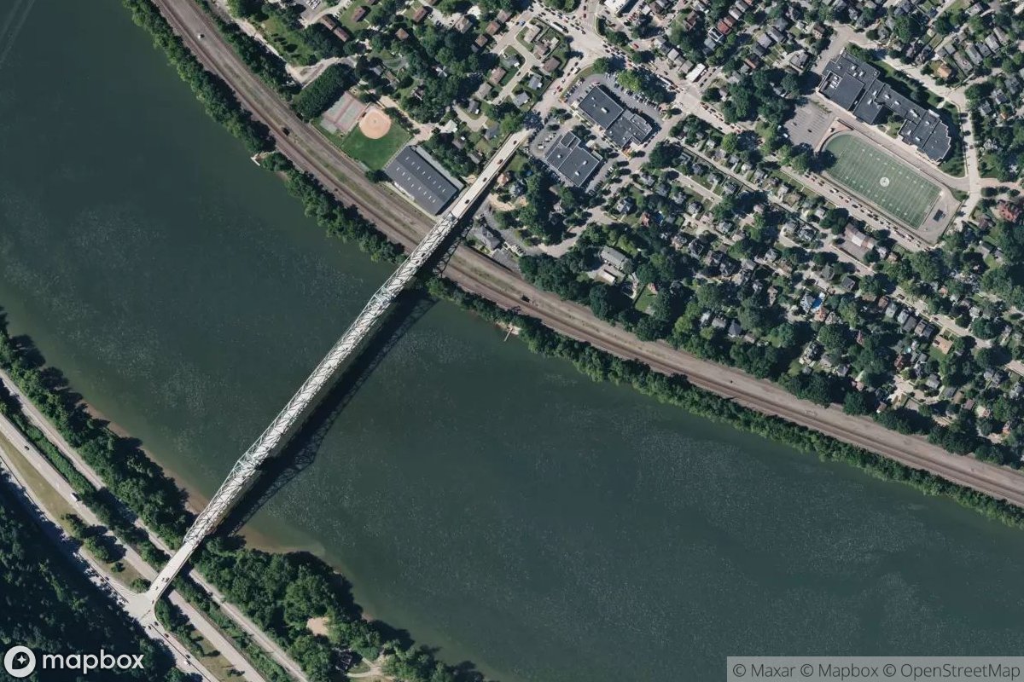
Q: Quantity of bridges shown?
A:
1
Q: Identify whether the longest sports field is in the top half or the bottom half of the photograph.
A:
top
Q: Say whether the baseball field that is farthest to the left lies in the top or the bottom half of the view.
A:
top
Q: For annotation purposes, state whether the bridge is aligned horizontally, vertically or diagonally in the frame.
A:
diagonally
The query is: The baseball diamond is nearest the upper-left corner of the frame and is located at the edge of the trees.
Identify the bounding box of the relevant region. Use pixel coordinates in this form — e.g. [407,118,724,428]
[341,108,413,169]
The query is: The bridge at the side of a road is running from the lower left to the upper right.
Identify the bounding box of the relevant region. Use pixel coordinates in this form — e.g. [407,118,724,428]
[147,131,524,600]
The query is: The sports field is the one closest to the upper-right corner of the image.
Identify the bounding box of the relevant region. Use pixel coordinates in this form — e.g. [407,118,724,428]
[820,130,966,243]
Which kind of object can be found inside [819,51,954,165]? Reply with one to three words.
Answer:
building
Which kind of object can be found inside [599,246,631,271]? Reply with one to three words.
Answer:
house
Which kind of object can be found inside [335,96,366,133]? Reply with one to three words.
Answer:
tennis court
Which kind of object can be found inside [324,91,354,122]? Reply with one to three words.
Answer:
tennis court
